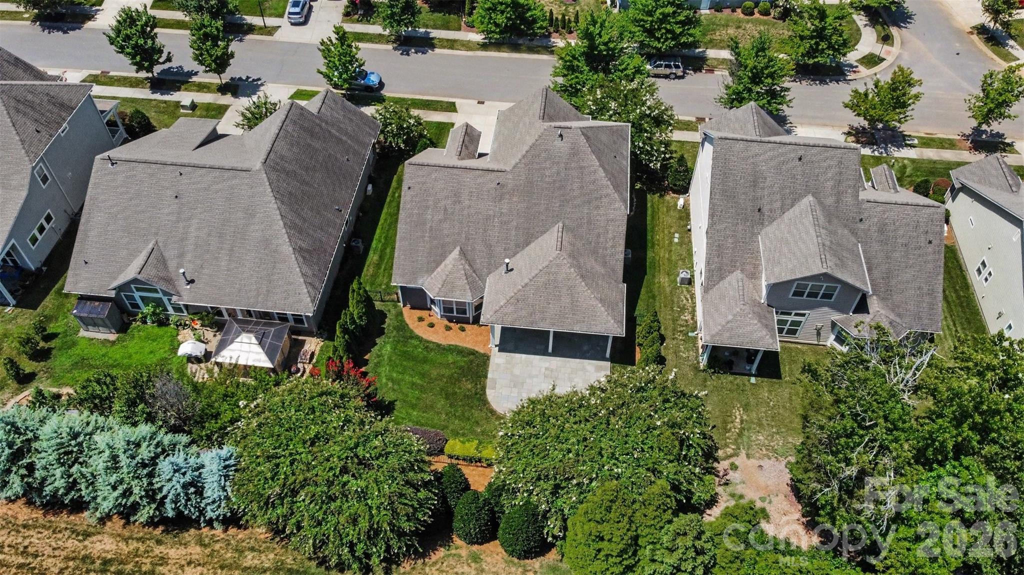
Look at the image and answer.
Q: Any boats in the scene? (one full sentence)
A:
No, there isn't any boat down there.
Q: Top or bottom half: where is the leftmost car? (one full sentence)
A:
Seen from above, the leftmost car lies in the top half of the view.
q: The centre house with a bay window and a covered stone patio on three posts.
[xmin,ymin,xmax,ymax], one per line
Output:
[392,85,632,358]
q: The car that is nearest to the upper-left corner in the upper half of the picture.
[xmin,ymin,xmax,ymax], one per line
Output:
[286,0,313,21]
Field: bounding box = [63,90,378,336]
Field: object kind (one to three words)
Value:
house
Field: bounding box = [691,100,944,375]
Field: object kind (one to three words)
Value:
house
